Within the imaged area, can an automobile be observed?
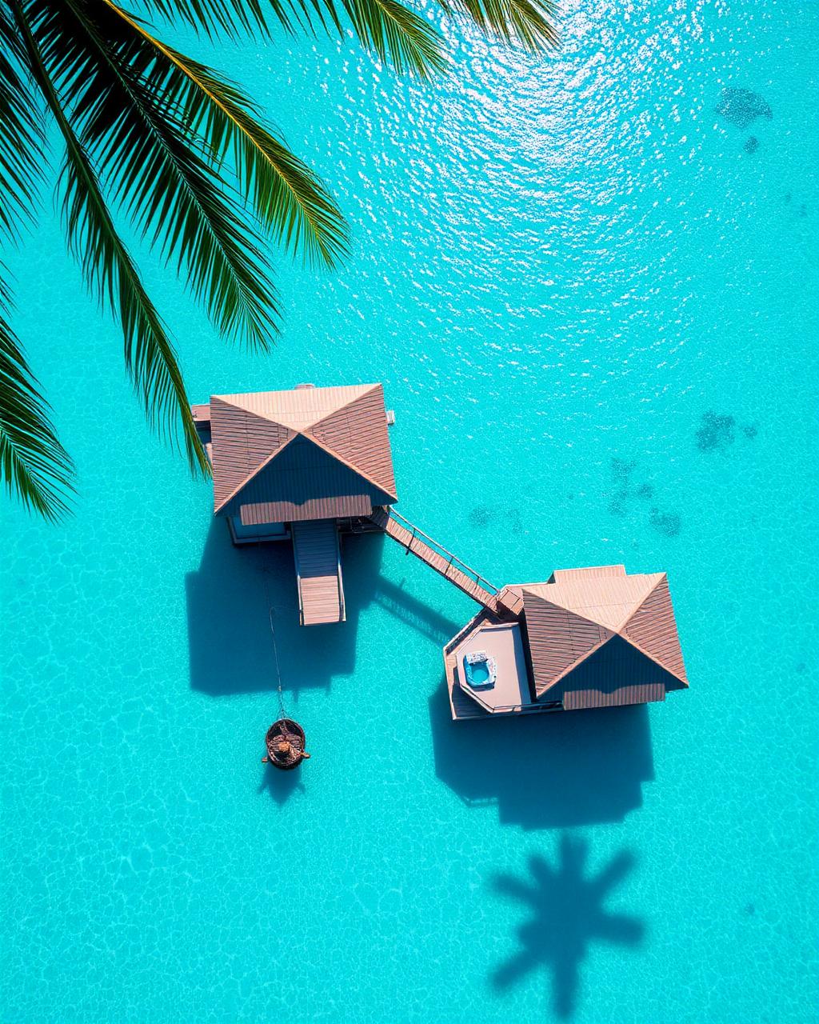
No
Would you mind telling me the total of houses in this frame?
2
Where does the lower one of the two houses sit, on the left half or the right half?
right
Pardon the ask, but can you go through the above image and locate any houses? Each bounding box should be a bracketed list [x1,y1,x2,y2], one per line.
[192,381,399,626]
[444,564,691,720]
